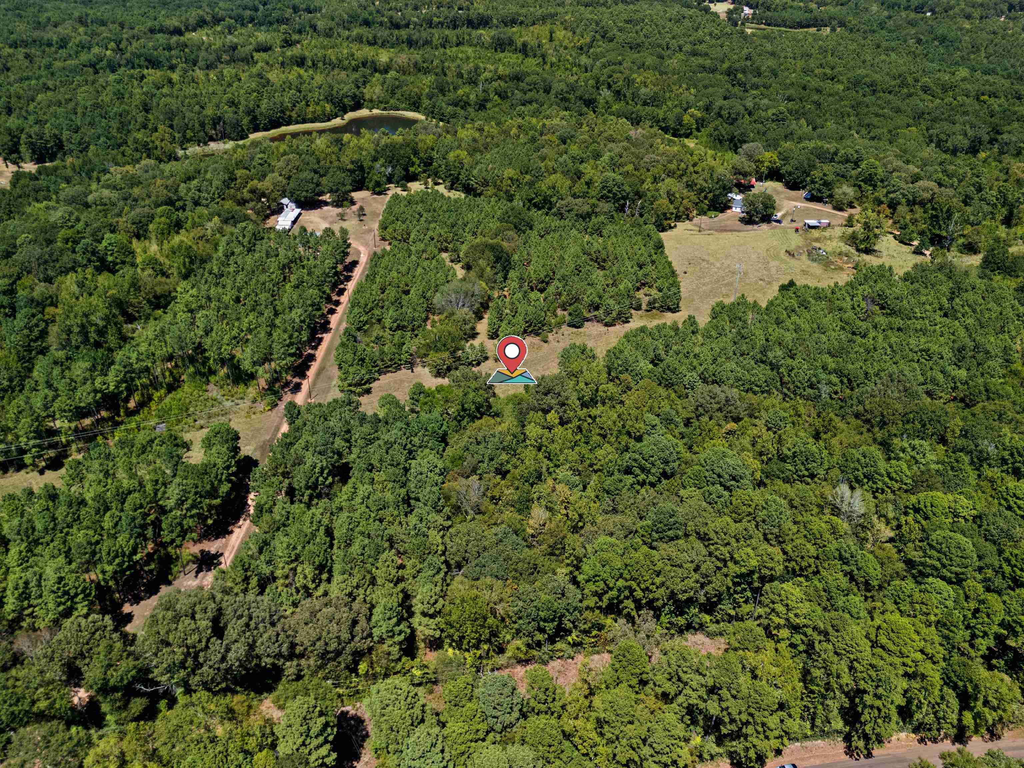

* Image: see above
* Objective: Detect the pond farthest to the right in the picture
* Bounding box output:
[260,115,425,147]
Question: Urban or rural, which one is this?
rural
